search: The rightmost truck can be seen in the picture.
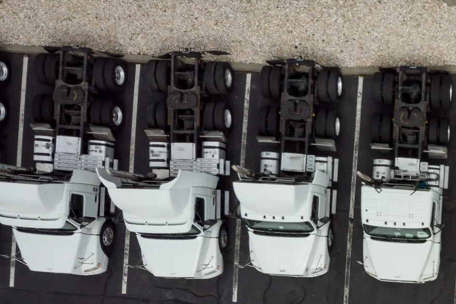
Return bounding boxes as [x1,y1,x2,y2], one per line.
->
[348,61,453,285]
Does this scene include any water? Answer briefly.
No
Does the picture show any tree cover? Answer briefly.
No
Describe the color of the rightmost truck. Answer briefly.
white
